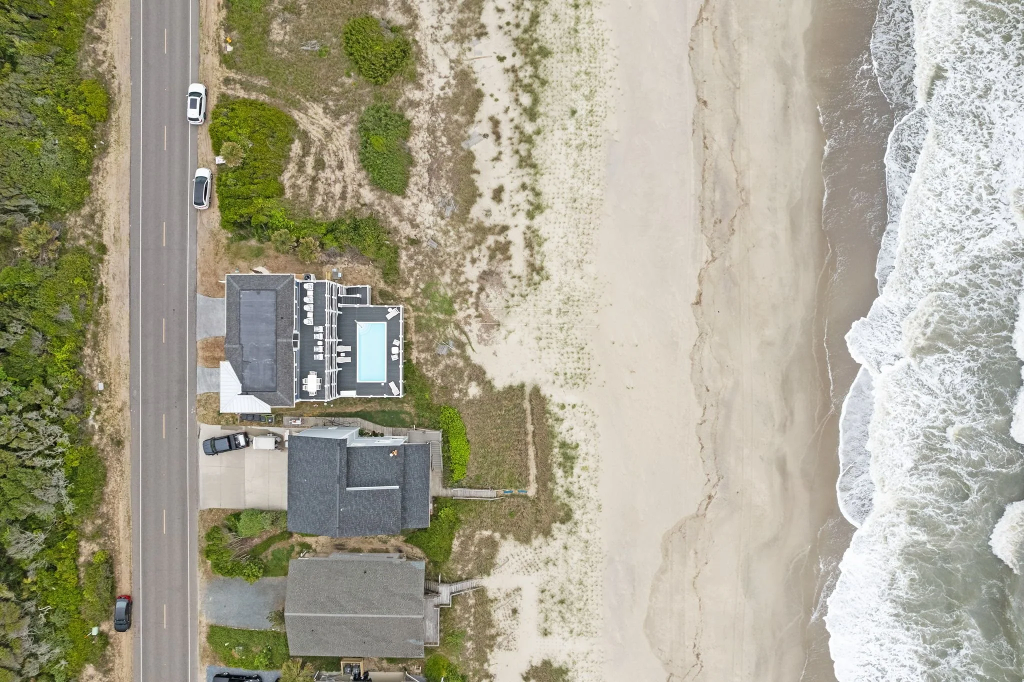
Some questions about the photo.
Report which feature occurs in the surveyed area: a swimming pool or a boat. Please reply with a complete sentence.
There is a swimming pool in the scene.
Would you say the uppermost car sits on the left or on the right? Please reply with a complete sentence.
It is on the left.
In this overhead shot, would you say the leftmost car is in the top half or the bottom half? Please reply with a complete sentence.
The leftmost car sits in the bottom half of the picture.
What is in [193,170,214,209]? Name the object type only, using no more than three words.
car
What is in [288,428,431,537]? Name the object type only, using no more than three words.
house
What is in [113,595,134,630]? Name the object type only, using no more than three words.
car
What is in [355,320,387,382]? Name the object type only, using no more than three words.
swimming pool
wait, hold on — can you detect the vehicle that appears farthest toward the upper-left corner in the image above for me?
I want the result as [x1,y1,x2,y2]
[187,86,208,125]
